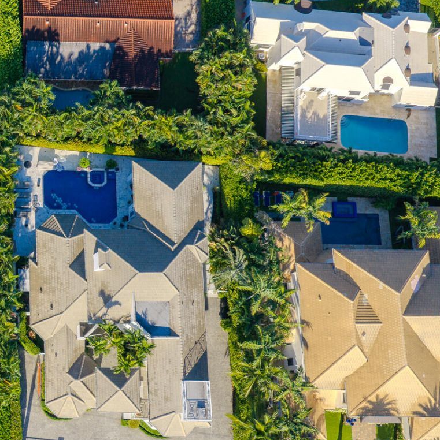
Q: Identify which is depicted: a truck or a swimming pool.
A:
swimming pool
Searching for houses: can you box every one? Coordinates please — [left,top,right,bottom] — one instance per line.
[28,159,212,437]
[22,0,174,91]
[269,206,440,440]
[243,0,439,143]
